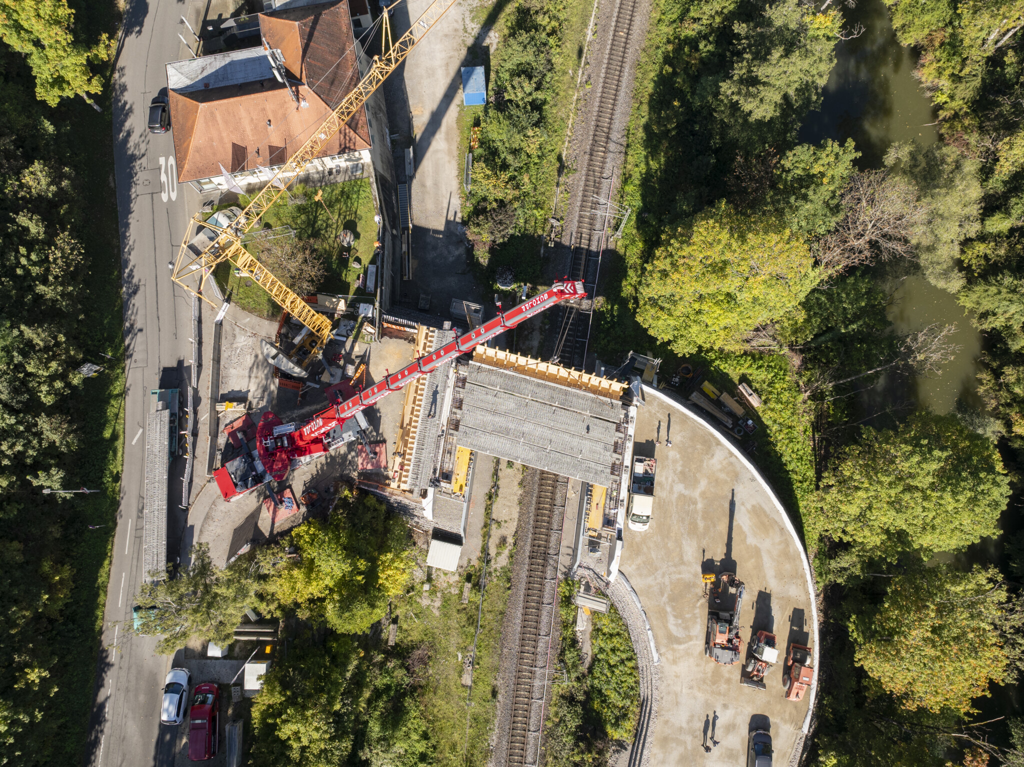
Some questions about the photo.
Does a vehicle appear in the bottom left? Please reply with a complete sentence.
Yes, I can see a vehicle in the bottom left.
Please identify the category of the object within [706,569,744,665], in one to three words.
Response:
work vehicle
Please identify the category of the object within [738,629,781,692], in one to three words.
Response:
work vehicle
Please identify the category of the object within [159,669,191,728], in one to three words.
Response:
car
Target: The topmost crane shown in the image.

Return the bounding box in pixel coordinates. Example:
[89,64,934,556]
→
[165,0,469,388]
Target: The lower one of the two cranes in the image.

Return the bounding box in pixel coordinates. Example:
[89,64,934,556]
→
[212,275,612,509]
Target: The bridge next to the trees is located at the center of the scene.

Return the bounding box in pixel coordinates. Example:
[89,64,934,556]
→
[389,322,641,585]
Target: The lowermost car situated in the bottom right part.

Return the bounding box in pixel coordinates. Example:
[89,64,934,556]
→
[749,730,778,767]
